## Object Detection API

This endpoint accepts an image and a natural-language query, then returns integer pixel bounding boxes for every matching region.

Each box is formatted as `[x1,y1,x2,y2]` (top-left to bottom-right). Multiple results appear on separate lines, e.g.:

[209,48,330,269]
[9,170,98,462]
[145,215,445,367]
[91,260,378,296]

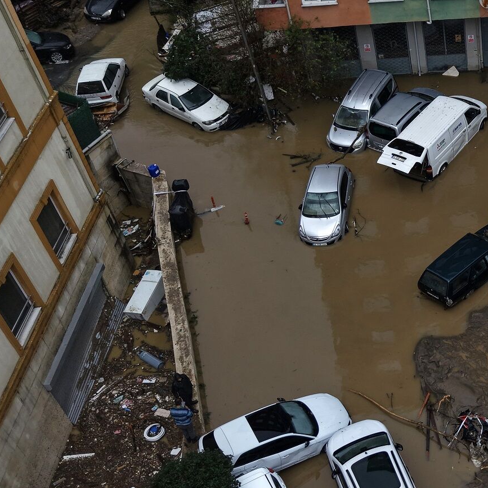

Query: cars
[296,167,352,244]
[202,385,350,479]
[334,70,399,149]
[86,0,123,19]
[368,93,441,153]
[152,79,228,129]
[20,13,80,56]
[79,53,135,100]
[328,428,413,488]
[423,225,488,309]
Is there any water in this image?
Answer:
Yes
